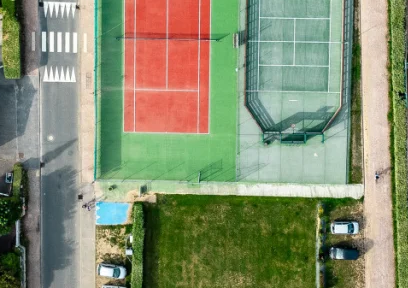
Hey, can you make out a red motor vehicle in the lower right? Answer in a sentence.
No, looking in the lower right, there is no red motor vehicle.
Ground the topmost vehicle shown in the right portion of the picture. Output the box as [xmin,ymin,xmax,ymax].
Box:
[330,218,359,235]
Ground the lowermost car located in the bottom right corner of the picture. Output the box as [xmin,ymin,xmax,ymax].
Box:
[329,244,360,261]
